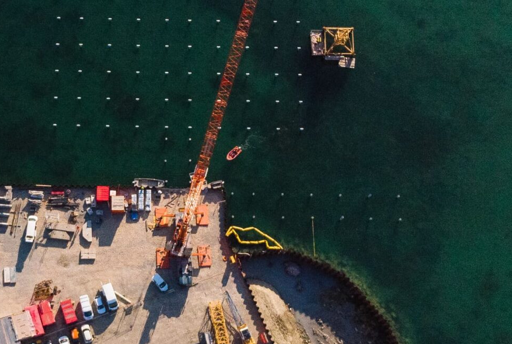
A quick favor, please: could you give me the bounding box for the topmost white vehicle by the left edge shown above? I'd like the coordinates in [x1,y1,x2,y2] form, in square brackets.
[24,216,38,243]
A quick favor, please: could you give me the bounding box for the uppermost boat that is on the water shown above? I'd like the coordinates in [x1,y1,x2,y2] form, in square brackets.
[227,145,241,161]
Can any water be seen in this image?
Yes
